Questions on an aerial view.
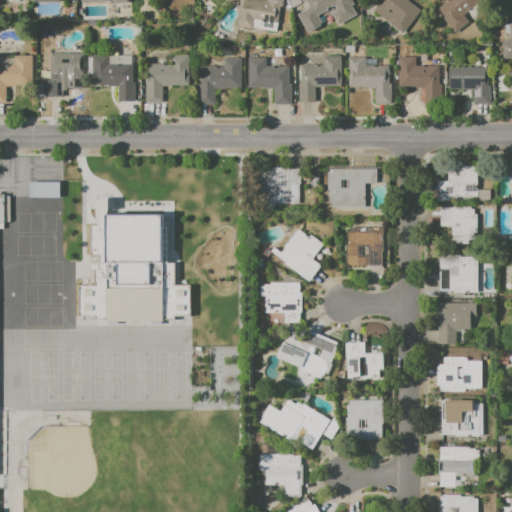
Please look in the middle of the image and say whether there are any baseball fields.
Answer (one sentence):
No, in the middle of the image there is no baseball field.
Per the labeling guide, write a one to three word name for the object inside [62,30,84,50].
swimming pool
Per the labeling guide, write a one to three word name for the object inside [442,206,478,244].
house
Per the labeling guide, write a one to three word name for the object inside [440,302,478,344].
house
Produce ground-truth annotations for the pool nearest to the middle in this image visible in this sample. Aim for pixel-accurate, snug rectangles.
[261,226,284,244]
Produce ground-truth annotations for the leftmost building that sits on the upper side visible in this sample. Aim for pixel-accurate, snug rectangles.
[0,55,32,103]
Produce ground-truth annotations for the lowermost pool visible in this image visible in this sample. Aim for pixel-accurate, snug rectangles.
[312,396,333,413]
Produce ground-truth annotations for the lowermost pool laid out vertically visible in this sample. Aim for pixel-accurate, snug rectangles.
[266,354,280,380]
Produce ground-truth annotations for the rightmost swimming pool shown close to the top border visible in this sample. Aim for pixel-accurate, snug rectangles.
[220,8,238,32]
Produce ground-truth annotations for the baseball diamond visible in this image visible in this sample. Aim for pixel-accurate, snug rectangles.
[29,426,96,497]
